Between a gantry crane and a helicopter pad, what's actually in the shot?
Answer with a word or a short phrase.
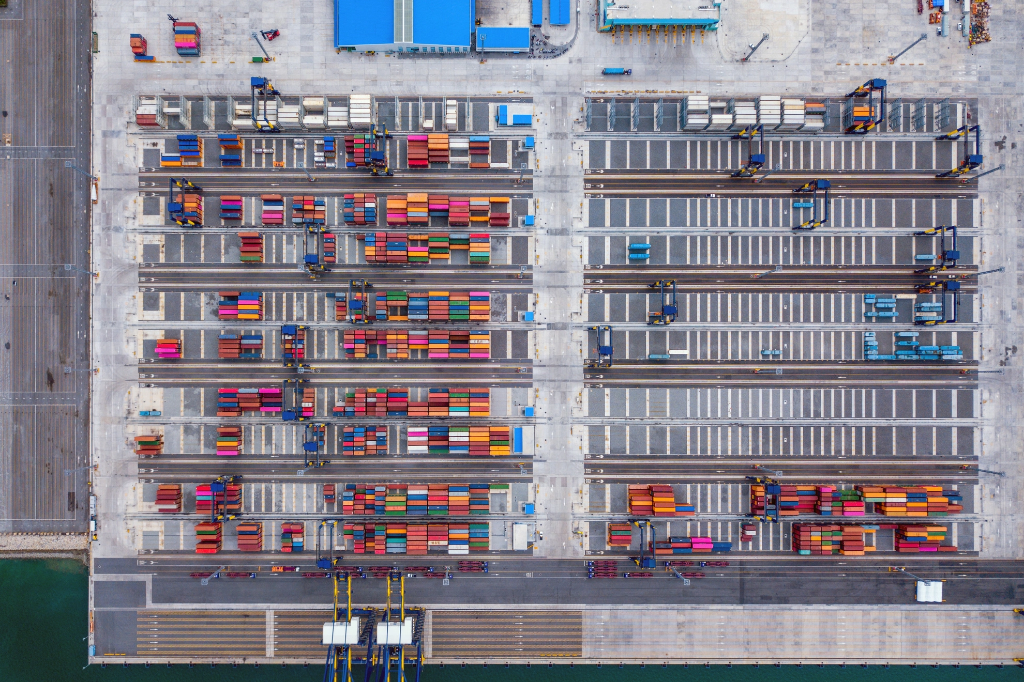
gantry crane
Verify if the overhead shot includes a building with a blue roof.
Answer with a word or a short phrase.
Yes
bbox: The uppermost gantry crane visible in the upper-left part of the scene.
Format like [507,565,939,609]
[250,77,279,132]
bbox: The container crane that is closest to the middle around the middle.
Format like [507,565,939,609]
[589,324,614,368]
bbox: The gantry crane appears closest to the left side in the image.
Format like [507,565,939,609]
[167,178,202,228]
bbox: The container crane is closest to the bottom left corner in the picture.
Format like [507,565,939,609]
[210,475,242,523]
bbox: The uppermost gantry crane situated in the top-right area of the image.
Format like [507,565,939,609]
[847,78,888,133]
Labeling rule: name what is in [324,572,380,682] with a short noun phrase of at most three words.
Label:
container crane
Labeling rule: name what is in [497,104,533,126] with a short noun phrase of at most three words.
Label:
building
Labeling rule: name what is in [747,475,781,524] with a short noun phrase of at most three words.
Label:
container crane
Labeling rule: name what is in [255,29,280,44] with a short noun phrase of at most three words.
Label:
work vehicle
